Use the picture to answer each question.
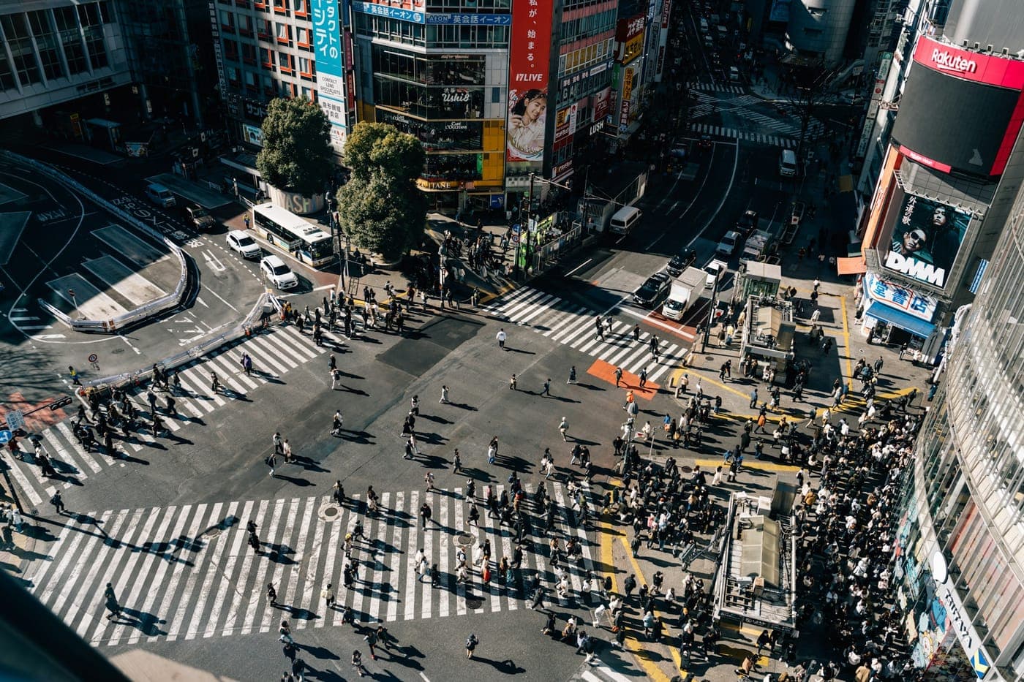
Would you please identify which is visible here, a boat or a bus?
bus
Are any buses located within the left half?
Yes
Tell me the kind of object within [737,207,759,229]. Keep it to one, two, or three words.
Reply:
car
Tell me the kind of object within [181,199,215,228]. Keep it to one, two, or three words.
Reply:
car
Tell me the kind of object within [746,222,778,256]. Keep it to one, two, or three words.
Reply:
truck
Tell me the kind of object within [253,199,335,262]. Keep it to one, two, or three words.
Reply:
bus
